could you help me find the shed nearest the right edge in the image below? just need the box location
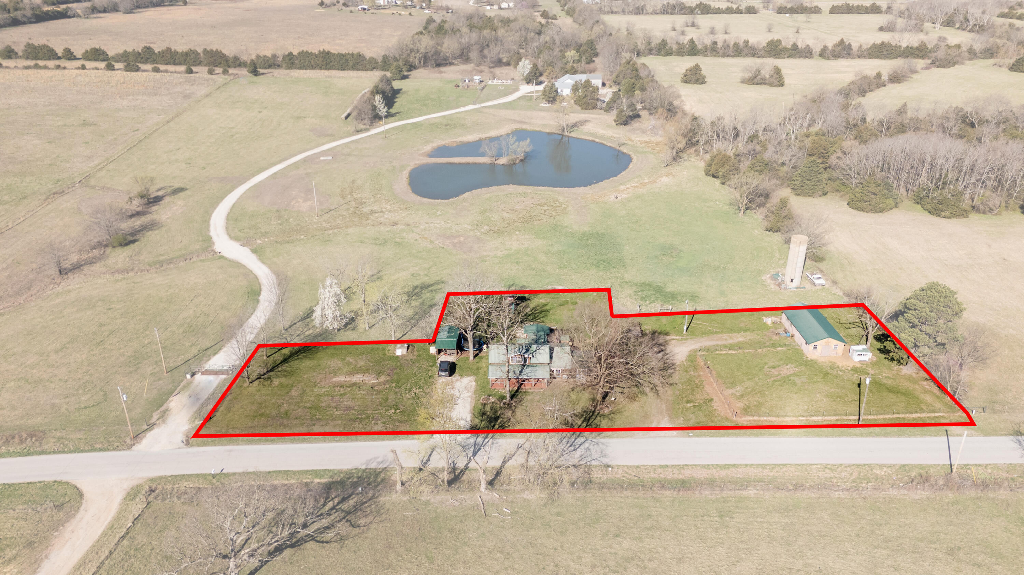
[850,344,871,361]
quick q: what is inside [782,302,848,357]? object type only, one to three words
barn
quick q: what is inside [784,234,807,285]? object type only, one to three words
silo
